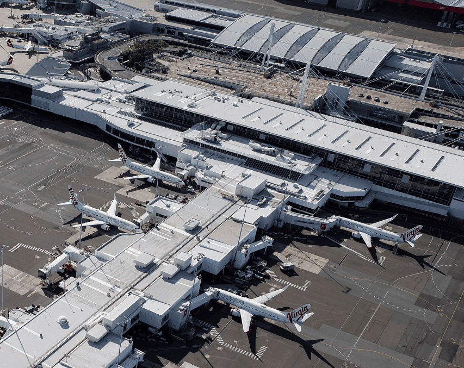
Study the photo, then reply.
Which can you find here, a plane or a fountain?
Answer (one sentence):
The one in the frame is a plane.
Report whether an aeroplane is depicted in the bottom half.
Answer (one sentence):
Yes, I can see an aeroplane in the bottom half.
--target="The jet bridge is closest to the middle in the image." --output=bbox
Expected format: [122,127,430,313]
[172,170,193,191]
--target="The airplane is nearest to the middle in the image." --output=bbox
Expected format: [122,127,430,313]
[110,145,177,187]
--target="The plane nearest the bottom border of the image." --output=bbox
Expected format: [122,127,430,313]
[204,283,313,332]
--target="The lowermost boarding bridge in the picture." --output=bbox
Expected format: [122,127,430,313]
[118,343,149,368]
